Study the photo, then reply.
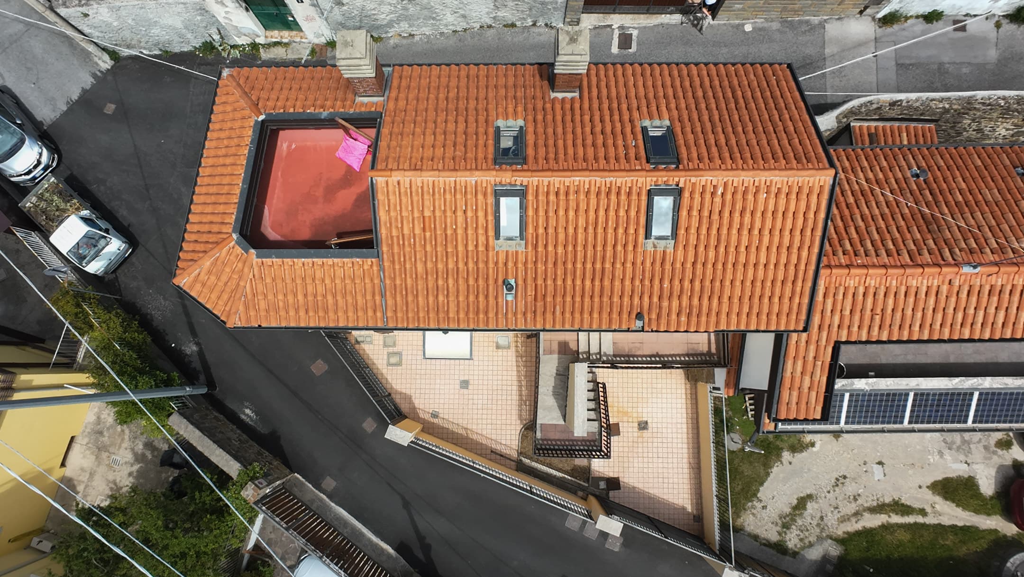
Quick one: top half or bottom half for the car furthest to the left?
top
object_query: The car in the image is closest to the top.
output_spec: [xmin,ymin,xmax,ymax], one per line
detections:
[0,79,62,181]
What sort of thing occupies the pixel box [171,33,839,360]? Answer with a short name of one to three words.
house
